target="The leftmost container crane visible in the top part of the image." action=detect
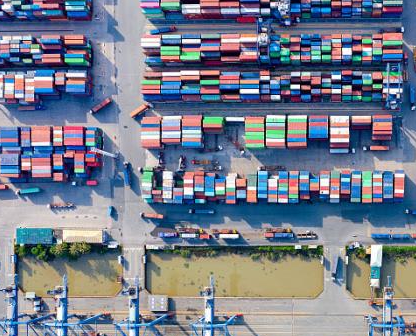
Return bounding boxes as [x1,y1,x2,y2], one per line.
[254,22,276,74]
